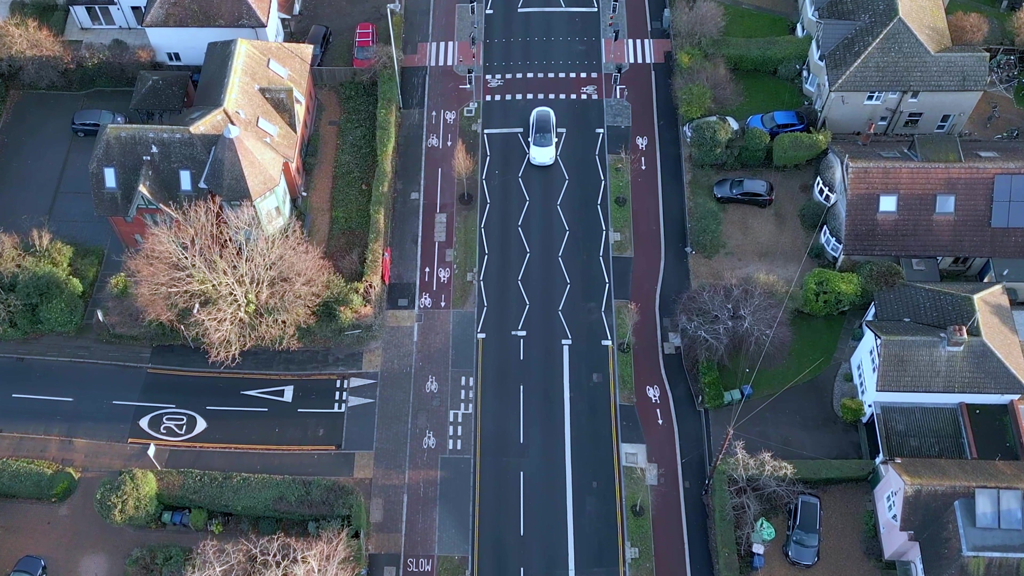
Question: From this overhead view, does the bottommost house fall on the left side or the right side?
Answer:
right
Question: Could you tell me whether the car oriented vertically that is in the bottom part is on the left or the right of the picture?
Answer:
right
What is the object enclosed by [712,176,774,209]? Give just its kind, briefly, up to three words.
car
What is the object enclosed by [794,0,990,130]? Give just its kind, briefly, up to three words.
house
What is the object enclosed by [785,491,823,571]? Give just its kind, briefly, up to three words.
car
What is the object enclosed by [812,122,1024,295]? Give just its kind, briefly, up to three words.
house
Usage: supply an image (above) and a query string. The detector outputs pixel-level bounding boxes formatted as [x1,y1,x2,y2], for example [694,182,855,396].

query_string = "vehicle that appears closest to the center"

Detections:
[528,109,558,167]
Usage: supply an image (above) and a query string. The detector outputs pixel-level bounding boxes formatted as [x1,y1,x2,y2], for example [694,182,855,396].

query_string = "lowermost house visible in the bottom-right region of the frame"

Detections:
[876,461,1024,576]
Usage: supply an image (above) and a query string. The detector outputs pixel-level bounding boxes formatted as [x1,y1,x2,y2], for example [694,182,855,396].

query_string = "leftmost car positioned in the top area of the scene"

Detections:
[70,107,130,138]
